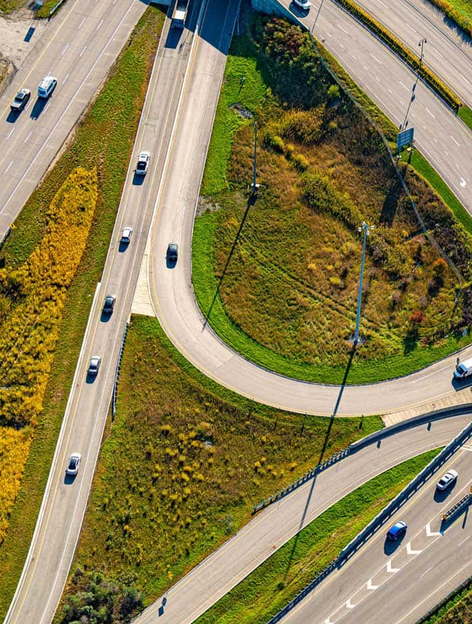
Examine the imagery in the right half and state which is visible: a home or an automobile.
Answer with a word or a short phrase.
automobile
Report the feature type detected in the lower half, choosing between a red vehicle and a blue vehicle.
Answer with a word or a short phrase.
blue vehicle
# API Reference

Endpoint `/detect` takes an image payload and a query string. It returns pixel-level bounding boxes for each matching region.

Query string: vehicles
[135,154,149,175]
[103,295,115,314]
[120,229,133,245]
[38,79,56,97]
[87,357,100,377]
[453,359,472,381]
[293,0,311,10]
[66,456,80,477]
[385,524,407,542]
[435,471,458,492]
[10,91,29,111]
[167,245,178,262]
